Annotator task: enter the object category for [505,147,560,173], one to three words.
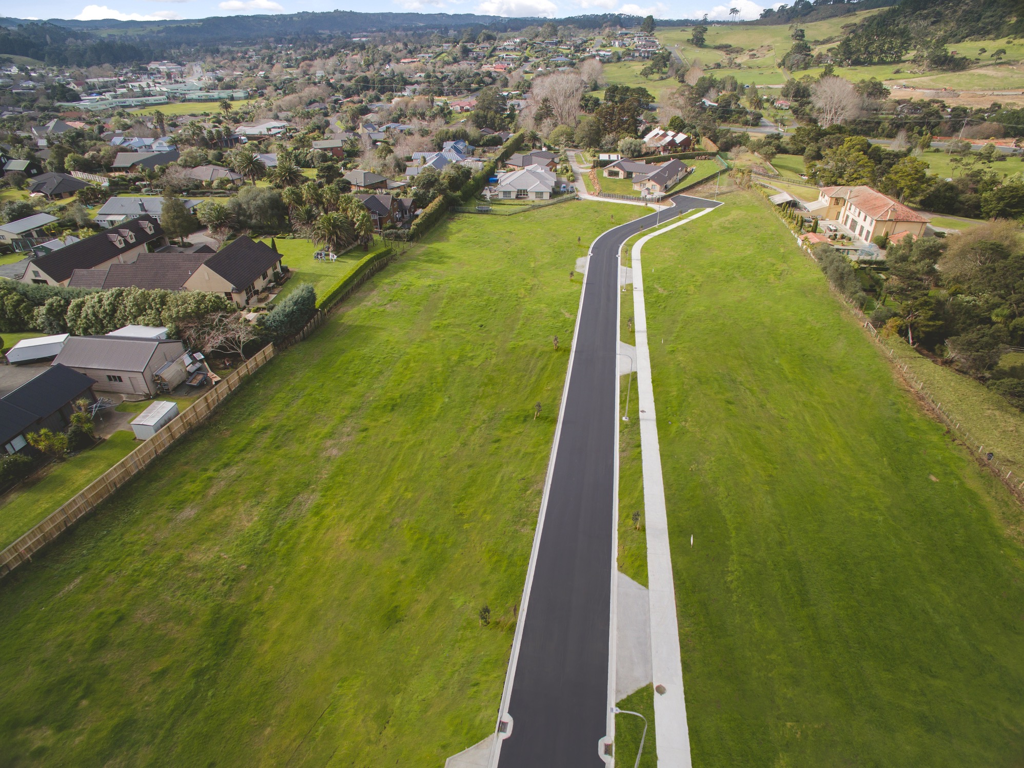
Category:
house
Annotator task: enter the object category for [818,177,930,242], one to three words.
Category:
house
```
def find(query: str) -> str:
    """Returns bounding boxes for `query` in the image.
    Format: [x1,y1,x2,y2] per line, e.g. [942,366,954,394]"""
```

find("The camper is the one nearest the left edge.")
[7,336,71,362]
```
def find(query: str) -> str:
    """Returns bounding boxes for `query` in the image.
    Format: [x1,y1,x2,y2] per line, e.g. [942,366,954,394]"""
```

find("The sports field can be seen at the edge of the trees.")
[130,100,256,115]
